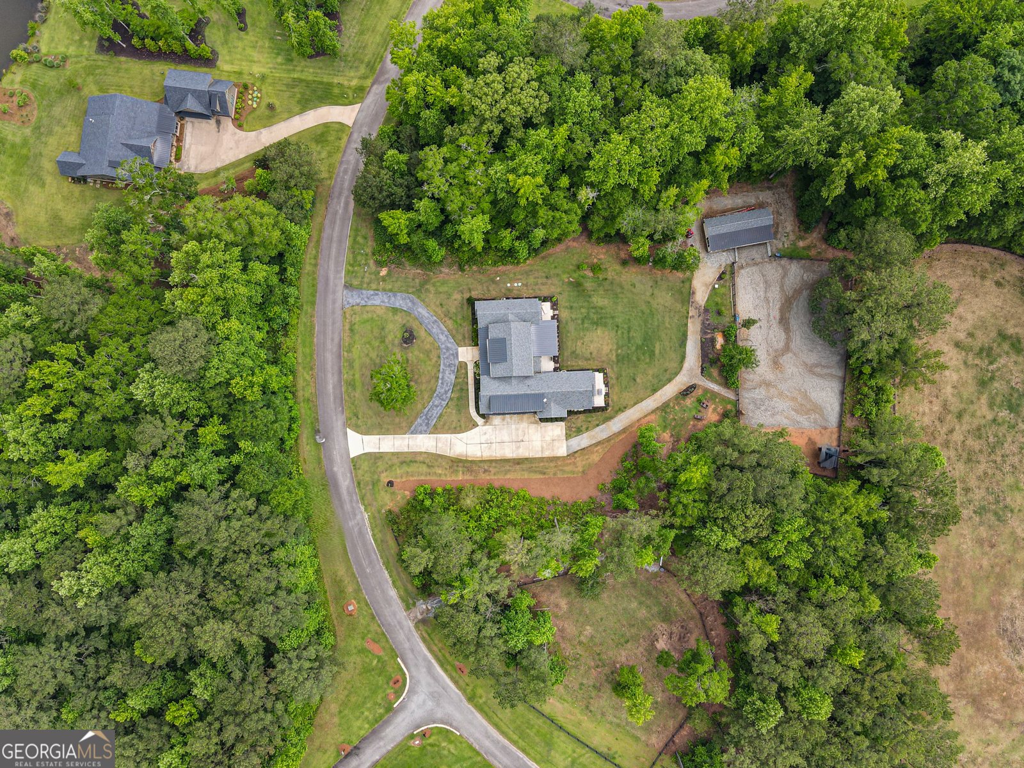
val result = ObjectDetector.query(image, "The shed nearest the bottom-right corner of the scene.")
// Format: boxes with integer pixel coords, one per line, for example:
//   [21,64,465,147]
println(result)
[820,446,845,469]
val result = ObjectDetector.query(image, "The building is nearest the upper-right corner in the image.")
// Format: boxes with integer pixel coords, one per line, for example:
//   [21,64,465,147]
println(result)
[701,208,777,254]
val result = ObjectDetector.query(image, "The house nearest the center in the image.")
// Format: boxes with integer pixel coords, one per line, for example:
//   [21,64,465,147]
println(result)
[475,297,596,418]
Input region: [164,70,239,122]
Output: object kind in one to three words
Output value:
building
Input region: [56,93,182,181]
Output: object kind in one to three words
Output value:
house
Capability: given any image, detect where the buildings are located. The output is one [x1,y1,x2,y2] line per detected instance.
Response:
[820,446,845,469]
[475,297,596,418]
[701,208,777,254]
[56,93,182,181]
[164,70,239,122]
